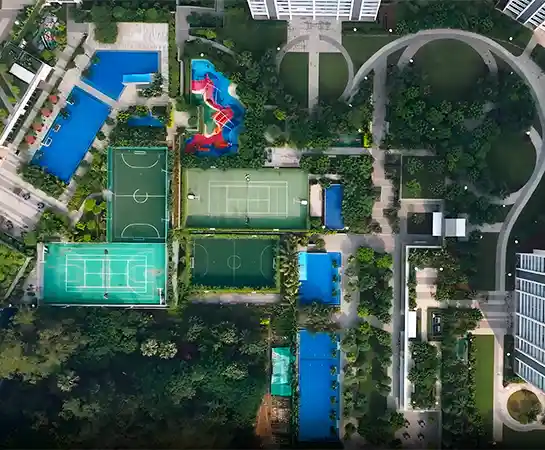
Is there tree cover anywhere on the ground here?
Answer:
Yes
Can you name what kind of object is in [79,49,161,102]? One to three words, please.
swimming pool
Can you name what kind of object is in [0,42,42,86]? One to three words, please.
house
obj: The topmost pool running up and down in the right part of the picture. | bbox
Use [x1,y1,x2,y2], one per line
[324,184,343,230]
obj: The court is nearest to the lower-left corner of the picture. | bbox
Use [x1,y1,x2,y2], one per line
[44,244,166,305]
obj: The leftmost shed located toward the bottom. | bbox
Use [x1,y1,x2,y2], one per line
[272,347,291,396]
